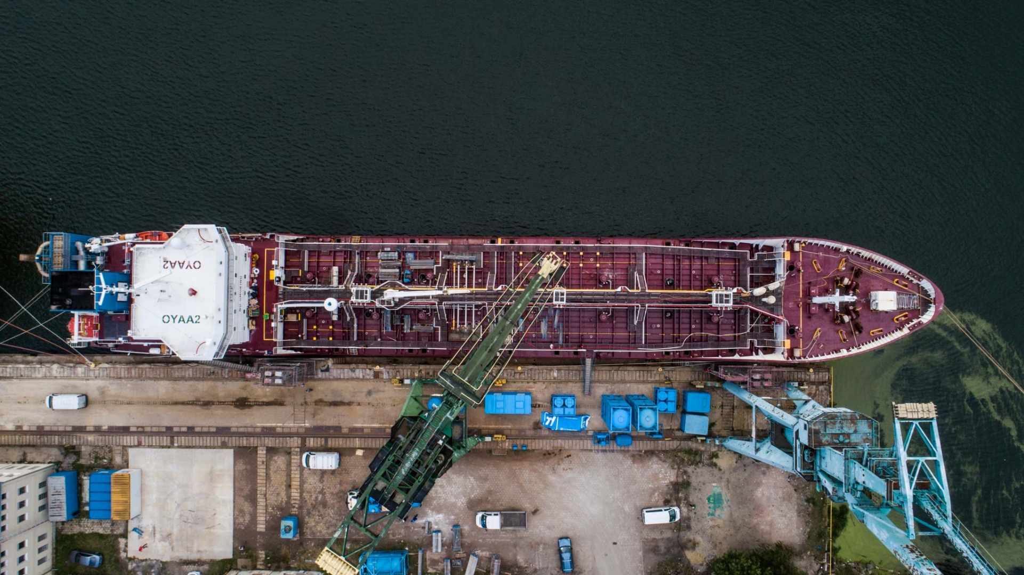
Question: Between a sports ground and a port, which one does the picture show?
port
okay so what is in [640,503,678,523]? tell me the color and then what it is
white vehicle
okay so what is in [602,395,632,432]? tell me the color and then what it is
blue storage tank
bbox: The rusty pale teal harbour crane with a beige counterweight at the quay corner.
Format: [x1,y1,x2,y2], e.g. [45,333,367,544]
[689,379,1014,575]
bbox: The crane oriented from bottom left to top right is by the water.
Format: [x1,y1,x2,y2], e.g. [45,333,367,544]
[314,250,570,575]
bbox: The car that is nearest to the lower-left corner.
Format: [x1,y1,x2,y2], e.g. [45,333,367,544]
[71,547,106,566]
